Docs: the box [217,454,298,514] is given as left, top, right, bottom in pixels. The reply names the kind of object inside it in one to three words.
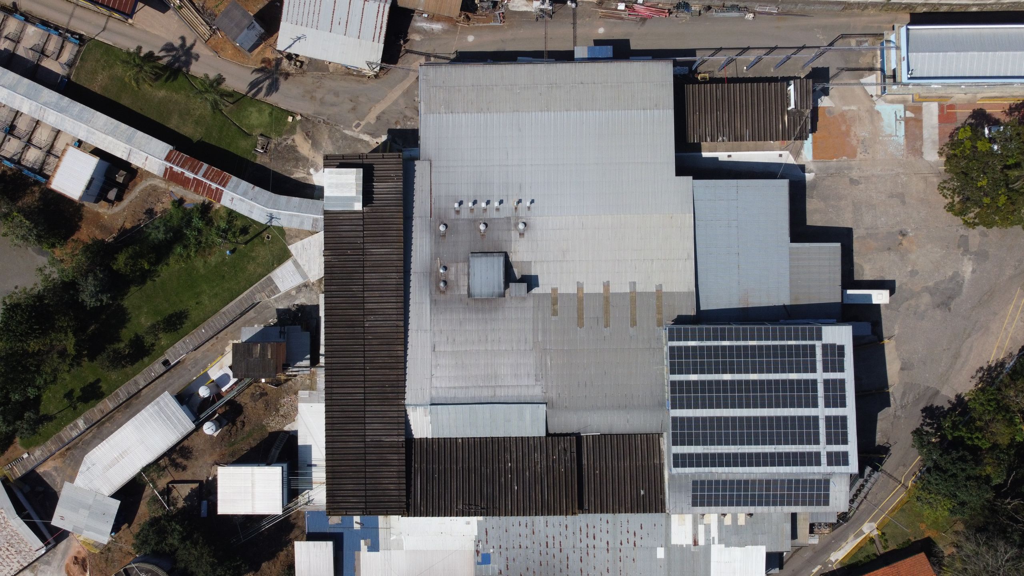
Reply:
building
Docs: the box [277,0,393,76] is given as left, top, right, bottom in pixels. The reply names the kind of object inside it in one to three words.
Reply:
building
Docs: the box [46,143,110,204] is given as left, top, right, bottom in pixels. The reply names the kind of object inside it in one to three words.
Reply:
shed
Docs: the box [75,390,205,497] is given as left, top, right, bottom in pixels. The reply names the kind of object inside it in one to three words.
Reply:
shed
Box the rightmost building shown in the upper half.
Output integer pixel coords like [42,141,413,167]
[874,23,1024,100]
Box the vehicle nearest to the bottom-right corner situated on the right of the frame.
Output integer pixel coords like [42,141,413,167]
[842,290,886,303]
